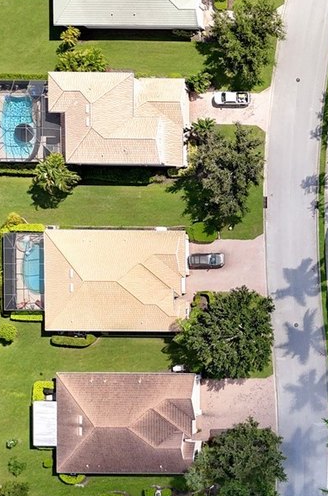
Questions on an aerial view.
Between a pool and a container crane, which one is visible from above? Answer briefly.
pool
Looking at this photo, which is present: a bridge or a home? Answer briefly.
home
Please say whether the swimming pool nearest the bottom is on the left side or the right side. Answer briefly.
left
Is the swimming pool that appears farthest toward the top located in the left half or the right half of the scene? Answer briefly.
left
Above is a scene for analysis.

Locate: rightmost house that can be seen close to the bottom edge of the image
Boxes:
[56,372,201,474]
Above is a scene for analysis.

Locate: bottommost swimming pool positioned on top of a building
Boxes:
[21,239,44,297]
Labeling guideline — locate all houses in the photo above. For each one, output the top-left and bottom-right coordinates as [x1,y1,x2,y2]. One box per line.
[56,372,201,474]
[53,0,210,33]
[43,230,192,331]
[48,71,190,165]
